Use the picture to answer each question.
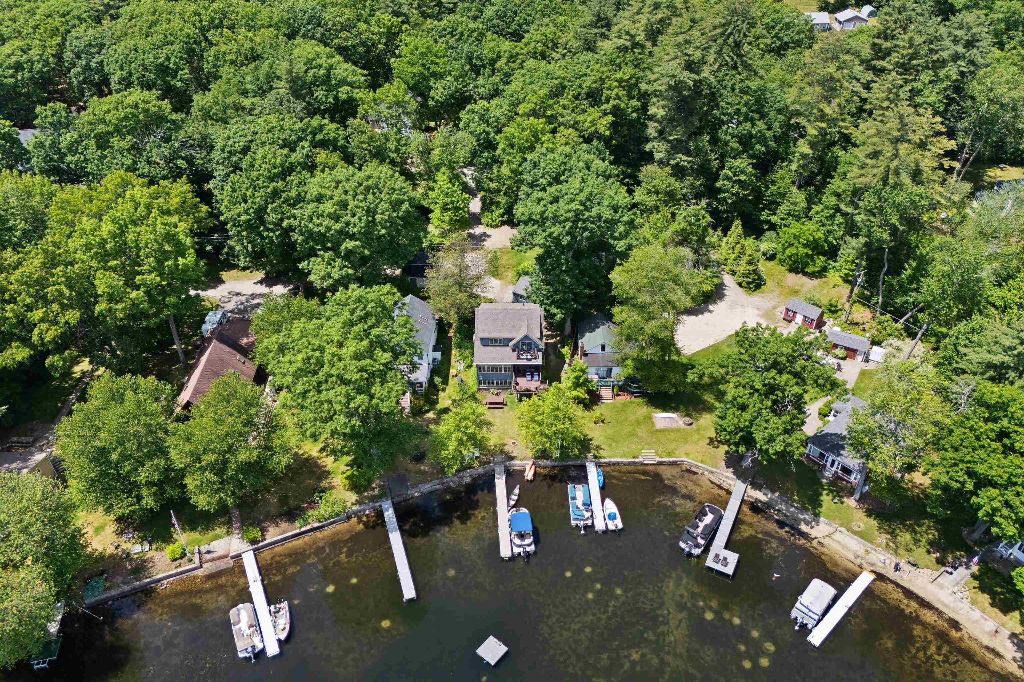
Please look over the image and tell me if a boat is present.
Yes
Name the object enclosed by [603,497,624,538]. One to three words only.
boat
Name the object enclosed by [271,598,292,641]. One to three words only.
boat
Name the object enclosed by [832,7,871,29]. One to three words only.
building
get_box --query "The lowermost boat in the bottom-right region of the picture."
[786,574,840,635]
